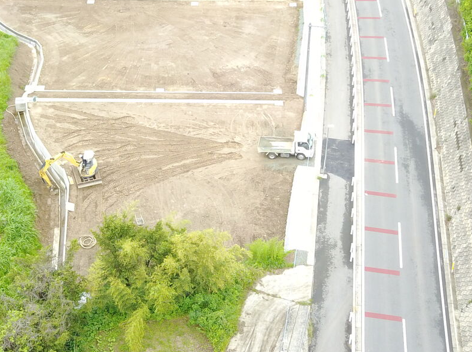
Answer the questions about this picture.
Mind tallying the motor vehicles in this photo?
two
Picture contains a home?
No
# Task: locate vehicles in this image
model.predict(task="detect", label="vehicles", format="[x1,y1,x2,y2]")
[258,131,315,163]
[39,147,98,192]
